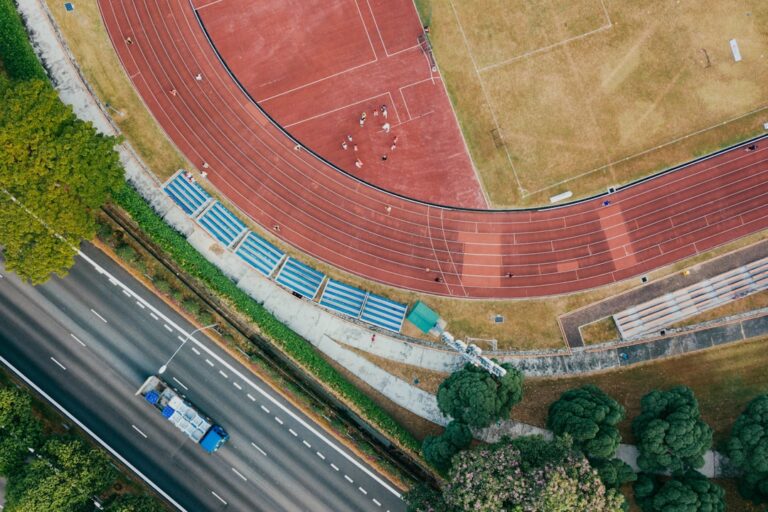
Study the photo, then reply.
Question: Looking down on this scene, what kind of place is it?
sports ground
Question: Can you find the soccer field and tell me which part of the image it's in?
top right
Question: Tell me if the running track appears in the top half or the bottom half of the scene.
top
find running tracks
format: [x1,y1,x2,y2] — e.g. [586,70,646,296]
[93,0,768,306]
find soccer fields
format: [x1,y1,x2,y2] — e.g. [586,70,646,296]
[416,0,768,209]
